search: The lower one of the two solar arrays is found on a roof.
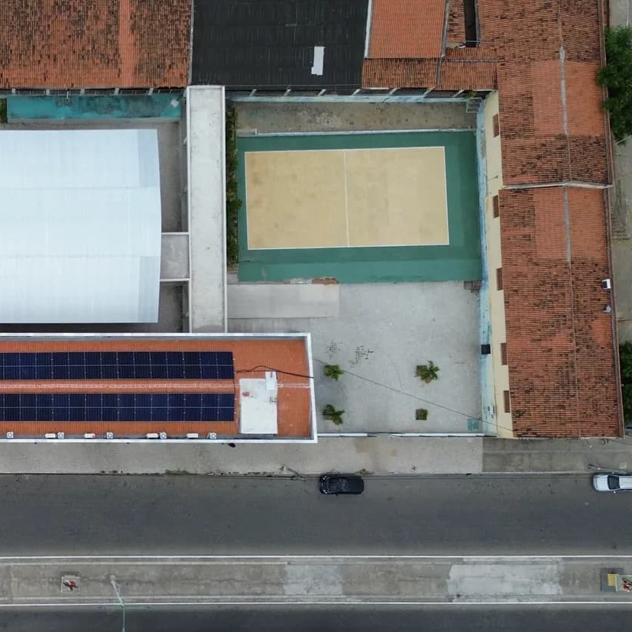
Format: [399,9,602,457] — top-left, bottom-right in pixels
[0,393,239,422]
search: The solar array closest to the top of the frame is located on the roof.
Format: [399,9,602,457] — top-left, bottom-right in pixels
[0,351,238,380]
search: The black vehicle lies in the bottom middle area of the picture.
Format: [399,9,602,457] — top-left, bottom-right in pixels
[320,473,368,497]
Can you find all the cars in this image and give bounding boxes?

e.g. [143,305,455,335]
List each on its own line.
[320,473,368,497]
[594,472,632,497]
